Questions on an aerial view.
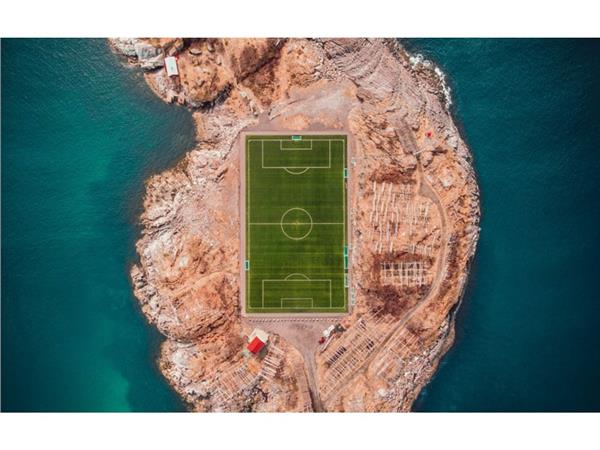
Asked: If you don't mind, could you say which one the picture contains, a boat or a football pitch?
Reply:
football pitch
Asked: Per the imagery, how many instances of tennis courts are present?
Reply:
0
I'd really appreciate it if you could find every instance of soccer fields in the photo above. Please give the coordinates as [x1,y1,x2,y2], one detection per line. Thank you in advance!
[241,131,351,317]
